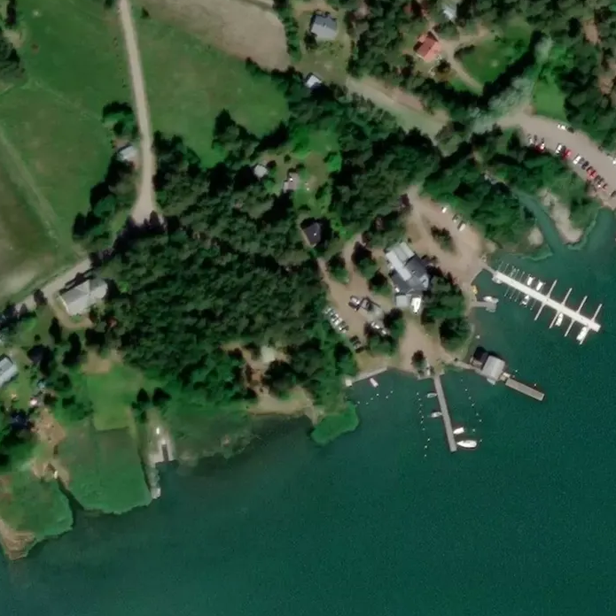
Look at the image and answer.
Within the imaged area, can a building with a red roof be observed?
Yes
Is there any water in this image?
Yes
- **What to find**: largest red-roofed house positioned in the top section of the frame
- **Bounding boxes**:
[412,31,443,61]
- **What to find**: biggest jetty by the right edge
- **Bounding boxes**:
[493,262,601,345]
